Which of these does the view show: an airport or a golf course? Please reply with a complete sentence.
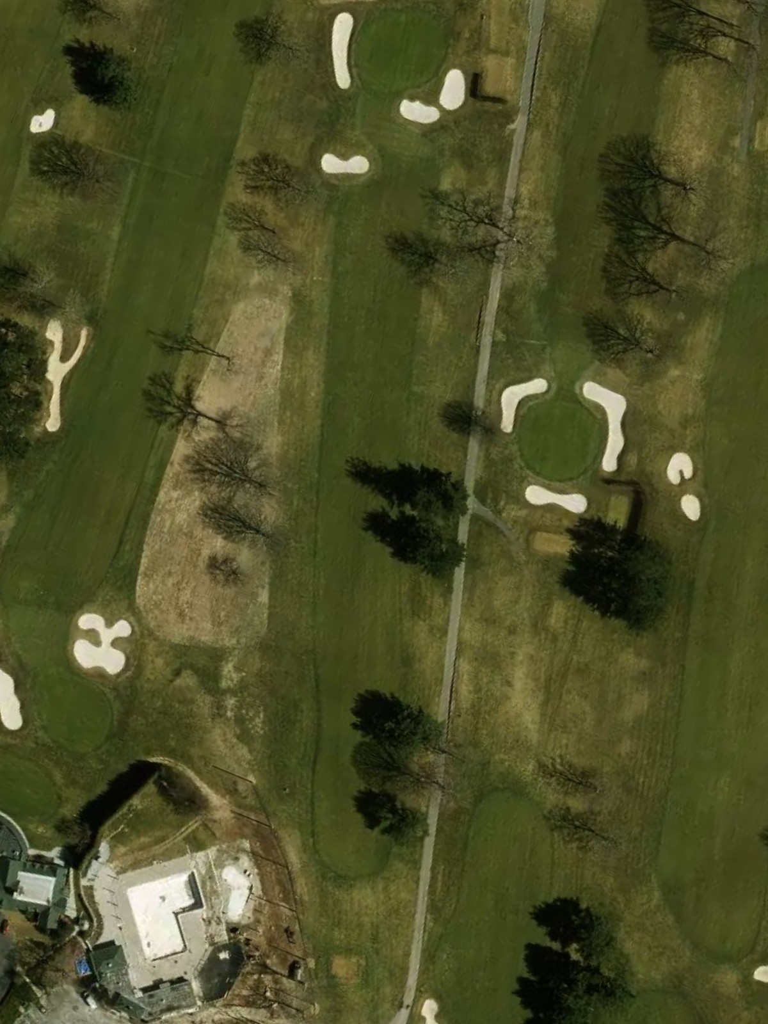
The picture captures a golf course.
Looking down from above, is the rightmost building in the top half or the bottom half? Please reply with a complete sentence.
Seen from above, the rightmost building lies in the bottom half of the view.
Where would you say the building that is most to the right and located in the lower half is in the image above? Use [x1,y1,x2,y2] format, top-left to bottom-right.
[89,946,196,1021]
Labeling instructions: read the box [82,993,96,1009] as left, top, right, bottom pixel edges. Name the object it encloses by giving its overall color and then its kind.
white vehicle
